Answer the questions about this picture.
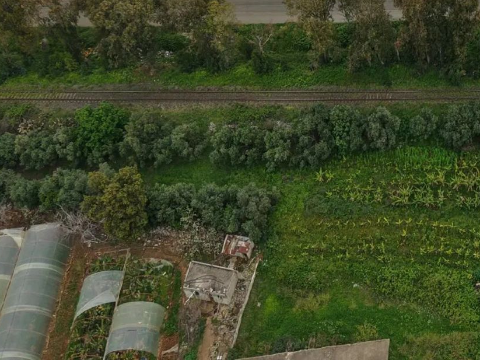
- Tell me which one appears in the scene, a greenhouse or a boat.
greenhouse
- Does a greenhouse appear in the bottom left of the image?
Yes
